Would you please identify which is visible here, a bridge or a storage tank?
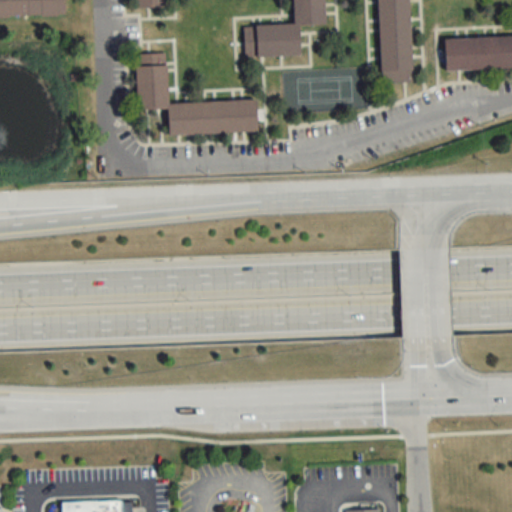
bridge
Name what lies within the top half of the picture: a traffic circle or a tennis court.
tennis court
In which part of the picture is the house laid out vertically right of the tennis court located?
top right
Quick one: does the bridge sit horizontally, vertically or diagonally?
vertically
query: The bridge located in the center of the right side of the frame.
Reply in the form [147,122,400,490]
[400,246,453,340]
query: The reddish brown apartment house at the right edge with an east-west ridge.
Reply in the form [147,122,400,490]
[445,36,512,70]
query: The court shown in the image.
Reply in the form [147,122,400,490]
[283,68,368,113]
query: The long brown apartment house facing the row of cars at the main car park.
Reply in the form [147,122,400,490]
[170,100,258,135]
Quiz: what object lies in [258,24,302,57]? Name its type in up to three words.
house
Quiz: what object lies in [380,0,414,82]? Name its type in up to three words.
house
